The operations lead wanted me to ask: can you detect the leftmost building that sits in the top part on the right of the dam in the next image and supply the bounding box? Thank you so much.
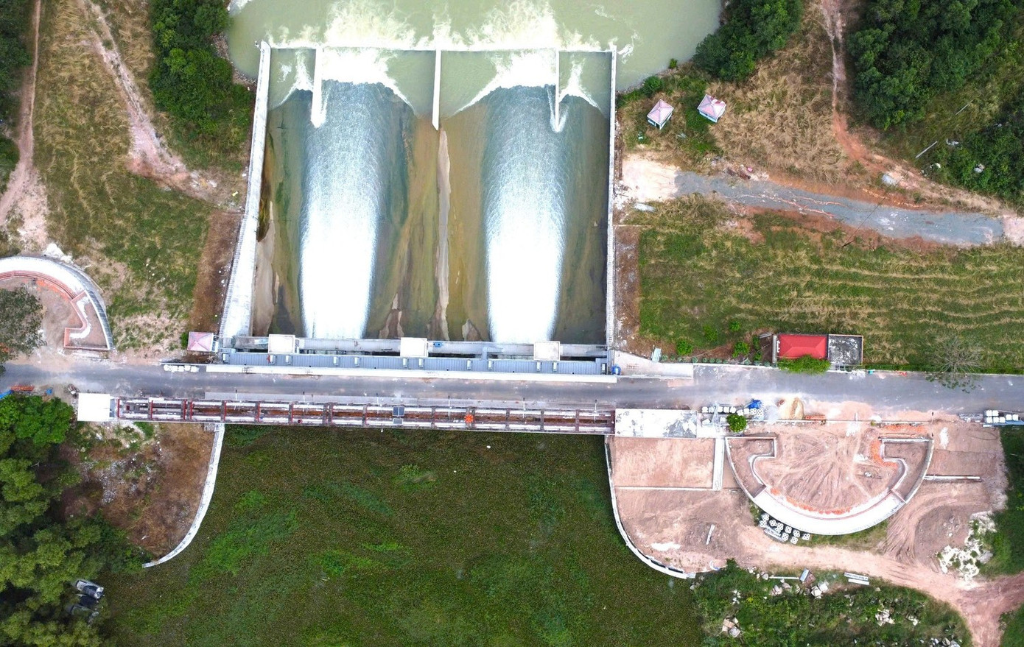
[647,99,674,131]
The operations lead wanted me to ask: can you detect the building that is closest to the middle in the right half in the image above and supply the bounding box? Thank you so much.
[615,409,696,437]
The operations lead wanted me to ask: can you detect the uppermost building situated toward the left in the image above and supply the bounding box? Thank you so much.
[187,332,219,352]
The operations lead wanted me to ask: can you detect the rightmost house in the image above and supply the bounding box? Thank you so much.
[776,335,863,368]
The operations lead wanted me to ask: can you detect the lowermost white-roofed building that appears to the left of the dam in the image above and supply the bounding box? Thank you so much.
[77,393,122,421]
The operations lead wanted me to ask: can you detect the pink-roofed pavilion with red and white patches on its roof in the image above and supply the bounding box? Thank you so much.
[696,94,726,124]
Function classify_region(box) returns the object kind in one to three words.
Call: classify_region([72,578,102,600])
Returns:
car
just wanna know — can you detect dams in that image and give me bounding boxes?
[205,42,617,410]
